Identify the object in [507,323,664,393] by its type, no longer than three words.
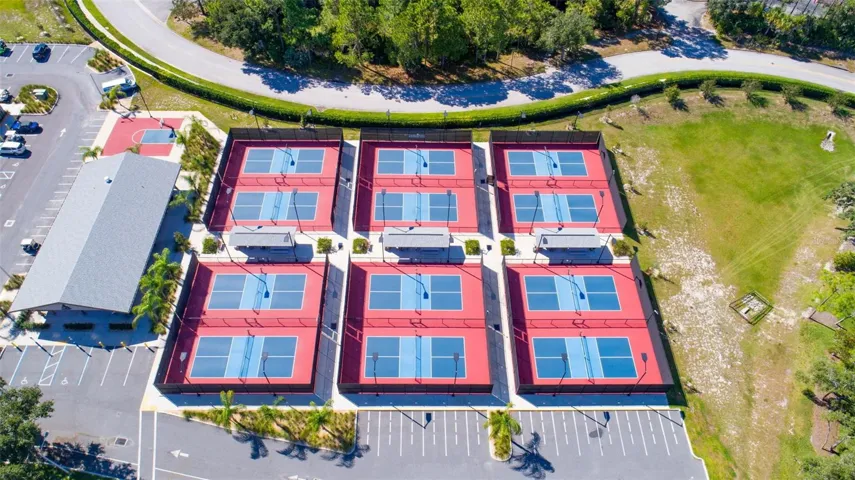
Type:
sports court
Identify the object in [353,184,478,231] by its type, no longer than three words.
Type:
sports court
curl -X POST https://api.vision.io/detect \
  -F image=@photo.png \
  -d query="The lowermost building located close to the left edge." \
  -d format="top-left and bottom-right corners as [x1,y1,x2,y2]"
[8,151,183,323]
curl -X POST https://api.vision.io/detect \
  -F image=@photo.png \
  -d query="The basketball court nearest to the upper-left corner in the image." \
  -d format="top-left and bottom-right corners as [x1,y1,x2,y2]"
[102,118,185,157]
